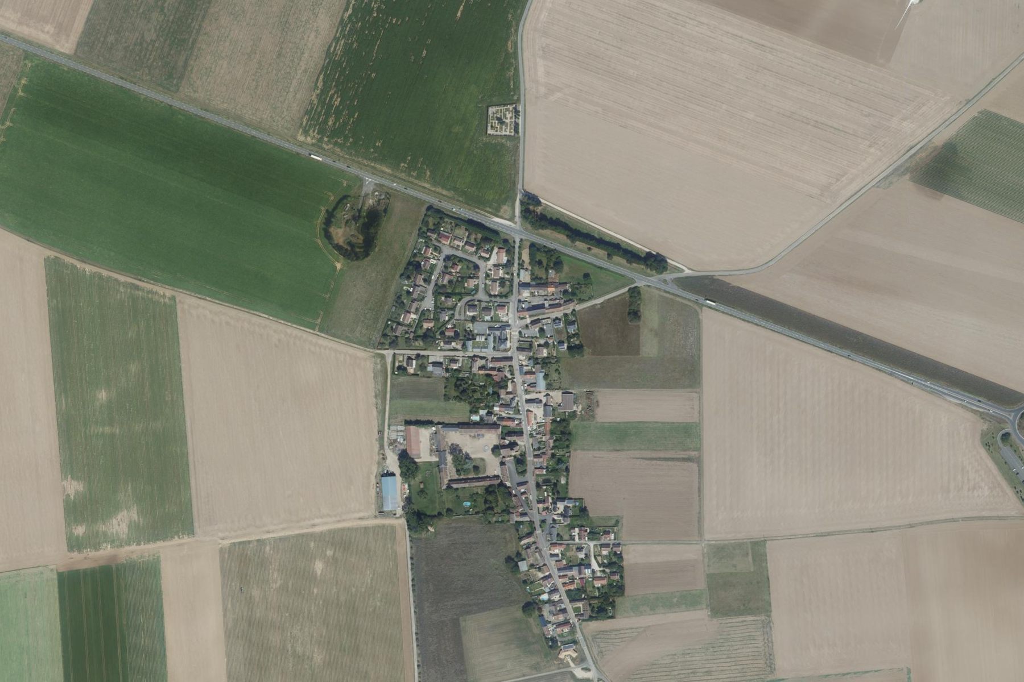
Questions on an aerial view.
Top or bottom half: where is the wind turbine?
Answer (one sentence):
You can find the wind turbine in the top half.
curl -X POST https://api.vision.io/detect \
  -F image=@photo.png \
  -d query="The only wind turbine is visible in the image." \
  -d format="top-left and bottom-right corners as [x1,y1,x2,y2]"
[896,0,917,32]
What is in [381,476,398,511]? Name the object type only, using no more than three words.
barn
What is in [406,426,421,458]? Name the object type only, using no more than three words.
barn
